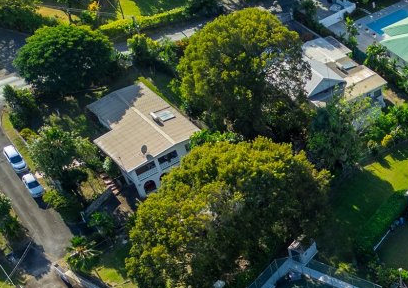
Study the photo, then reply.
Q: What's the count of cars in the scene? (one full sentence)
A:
In total, there are 2 cars in the scene.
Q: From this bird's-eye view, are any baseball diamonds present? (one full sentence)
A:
No, I can see no baseball diamond in this picture.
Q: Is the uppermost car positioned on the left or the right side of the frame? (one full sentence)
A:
The uppermost car is on the left side of the image.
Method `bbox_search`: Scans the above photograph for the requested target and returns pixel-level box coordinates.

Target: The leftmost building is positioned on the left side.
[88,84,202,192]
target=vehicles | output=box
[4,146,27,169]
[20,174,44,196]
